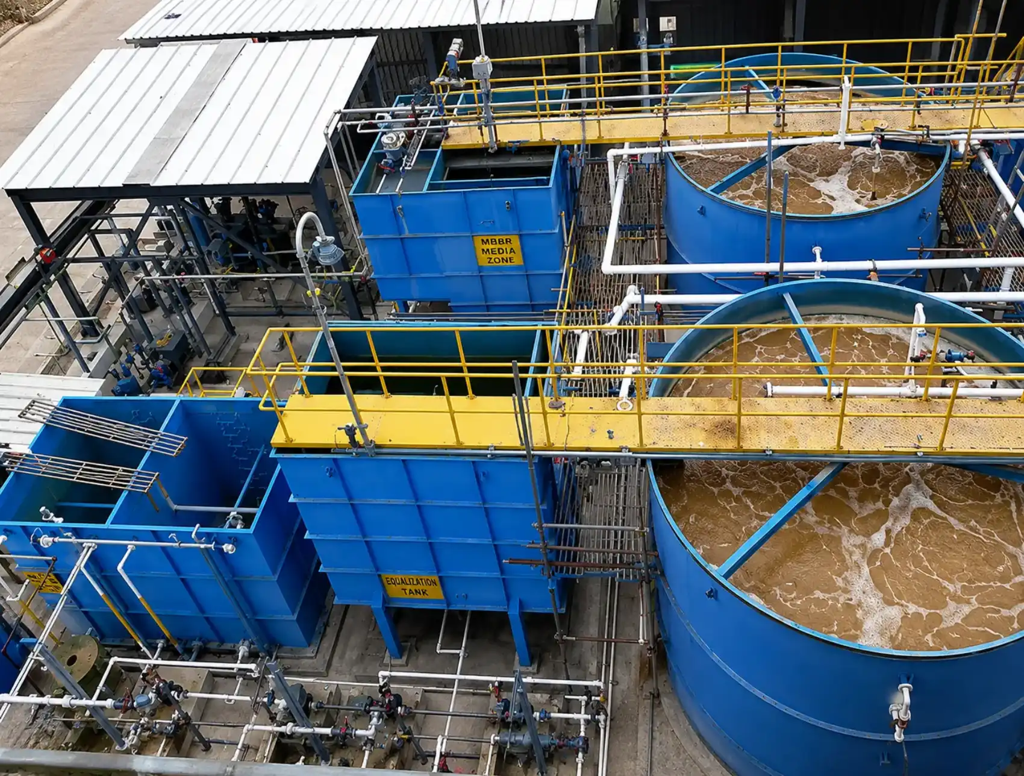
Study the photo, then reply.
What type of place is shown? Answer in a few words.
industrial area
